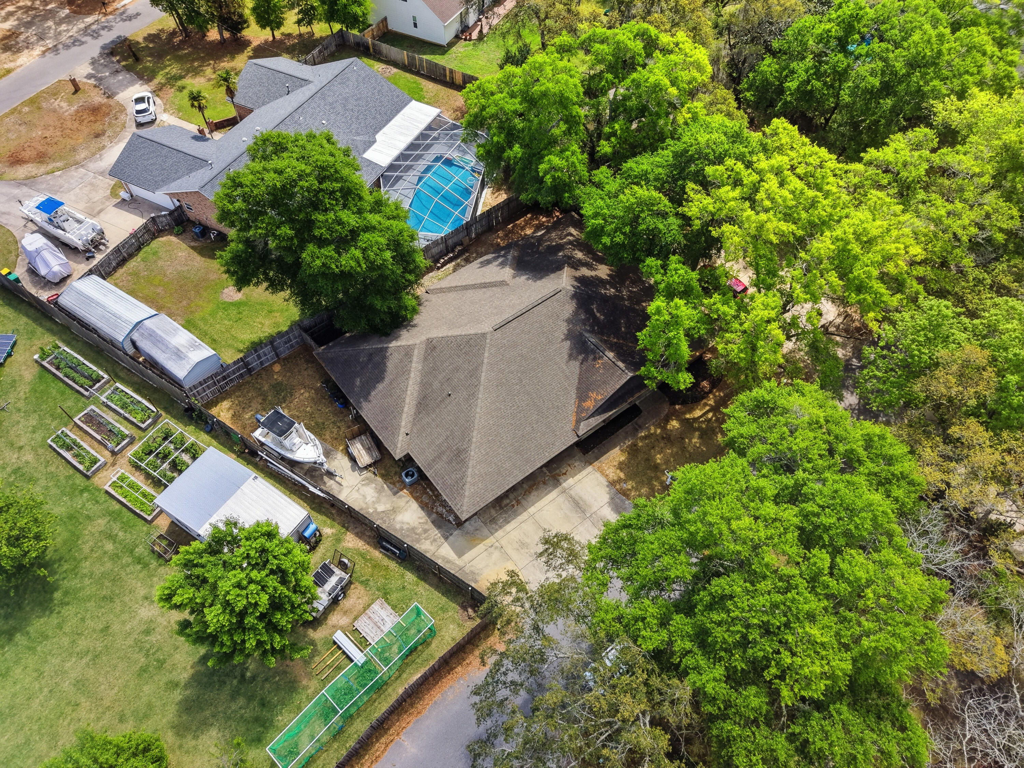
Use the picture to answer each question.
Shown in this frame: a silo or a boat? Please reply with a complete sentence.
This aerial view contains a boat.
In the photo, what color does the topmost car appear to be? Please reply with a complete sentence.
The color of the topmost car is white.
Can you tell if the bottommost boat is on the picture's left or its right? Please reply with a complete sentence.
It is on the left.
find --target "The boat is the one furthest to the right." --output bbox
[250,412,337,476]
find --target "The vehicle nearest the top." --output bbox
[125,88,158,126]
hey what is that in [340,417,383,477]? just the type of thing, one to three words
trailer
